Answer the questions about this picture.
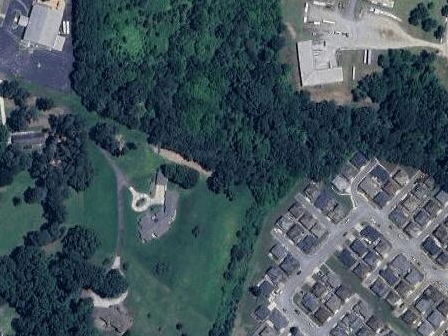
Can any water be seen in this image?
No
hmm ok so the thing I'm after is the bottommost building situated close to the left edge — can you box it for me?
[4,133,48,149]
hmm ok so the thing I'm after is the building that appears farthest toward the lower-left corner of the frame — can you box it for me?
[92,301,135,335]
